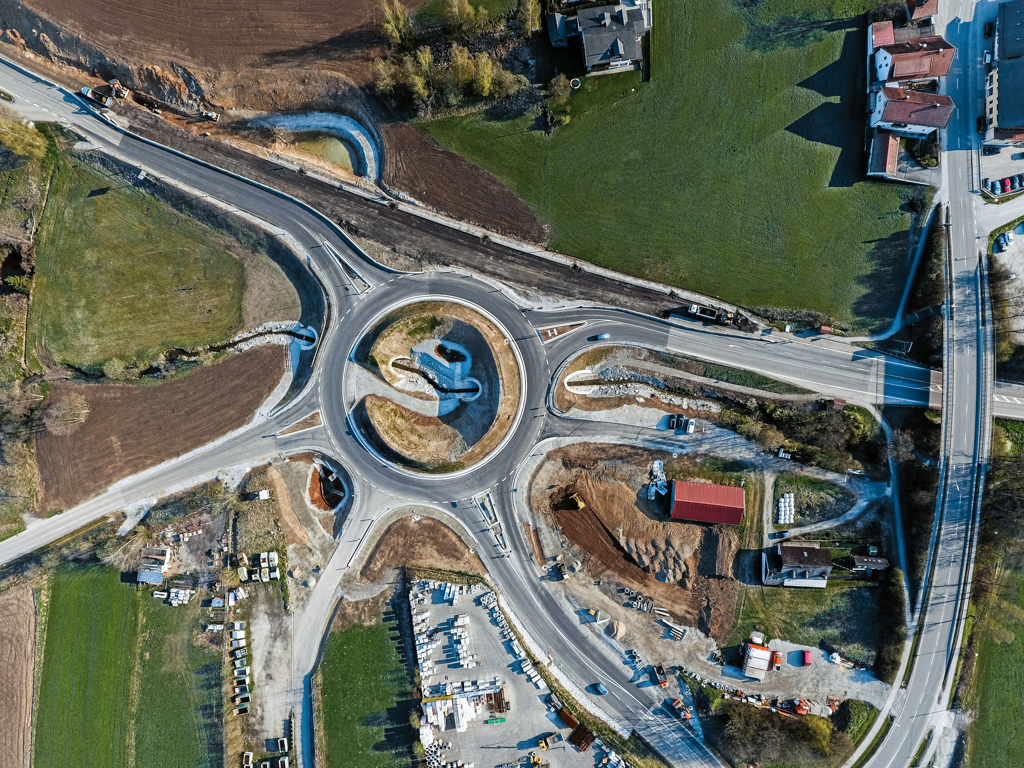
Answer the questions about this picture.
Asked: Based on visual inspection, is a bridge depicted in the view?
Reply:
Yes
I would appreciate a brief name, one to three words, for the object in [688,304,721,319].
vehicle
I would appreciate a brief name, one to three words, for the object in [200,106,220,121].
work vehicle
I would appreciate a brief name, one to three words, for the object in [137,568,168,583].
shed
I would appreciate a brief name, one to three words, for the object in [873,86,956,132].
house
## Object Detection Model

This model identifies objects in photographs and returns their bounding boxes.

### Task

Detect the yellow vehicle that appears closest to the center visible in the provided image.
[568,490,586,511]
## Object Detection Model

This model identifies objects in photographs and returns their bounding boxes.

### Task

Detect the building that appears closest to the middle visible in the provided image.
[669,479,744,525]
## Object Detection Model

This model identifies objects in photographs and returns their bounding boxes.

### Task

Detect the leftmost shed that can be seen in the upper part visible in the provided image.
[546,13,568,46]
